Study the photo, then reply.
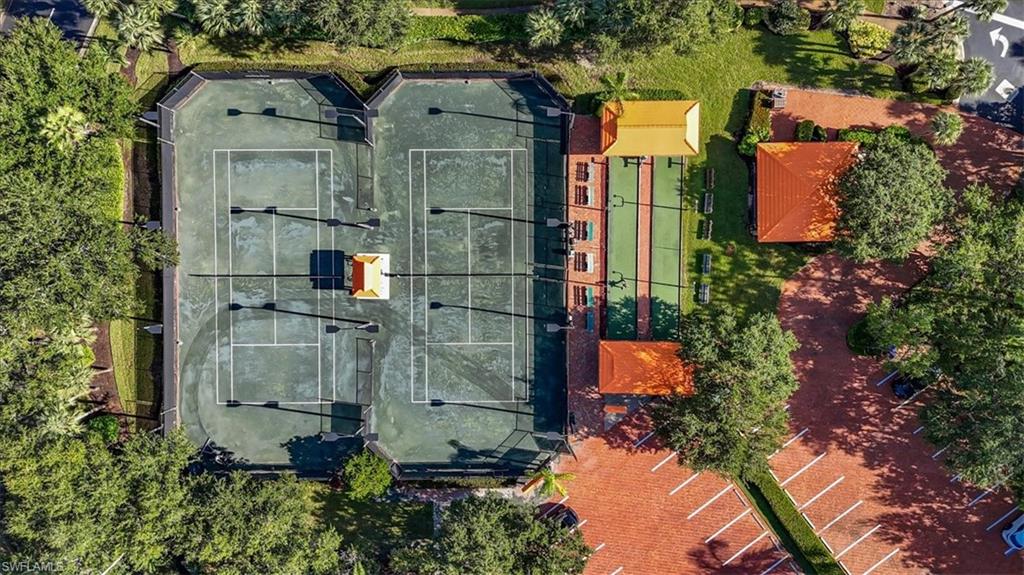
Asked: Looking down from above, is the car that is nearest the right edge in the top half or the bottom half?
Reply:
bottom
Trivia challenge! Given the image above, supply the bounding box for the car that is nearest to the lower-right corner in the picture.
[1002,519,1024,551]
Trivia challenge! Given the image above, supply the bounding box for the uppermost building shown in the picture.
[599,101,699,158]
